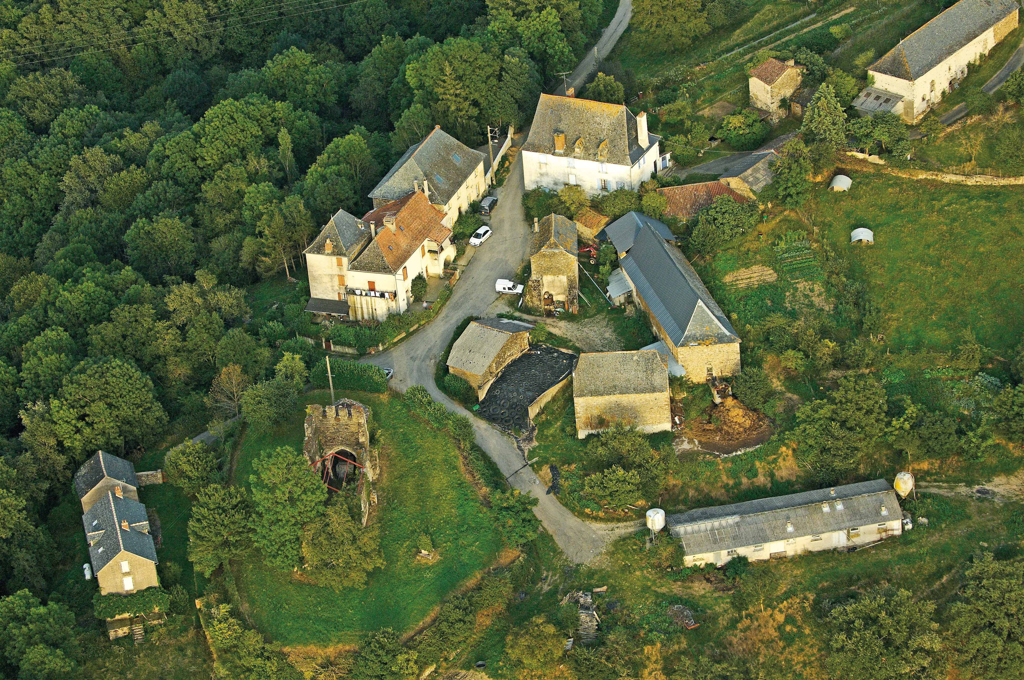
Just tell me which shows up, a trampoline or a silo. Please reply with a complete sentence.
This aerial view contains a silo.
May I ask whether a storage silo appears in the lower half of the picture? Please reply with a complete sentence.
Yes, the scene does show a storage silo in the lower half of the picture.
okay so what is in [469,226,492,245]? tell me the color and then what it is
white car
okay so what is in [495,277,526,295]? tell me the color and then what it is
white vehicle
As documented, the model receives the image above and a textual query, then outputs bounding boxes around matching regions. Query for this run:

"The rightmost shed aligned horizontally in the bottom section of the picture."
[671,478,903,571]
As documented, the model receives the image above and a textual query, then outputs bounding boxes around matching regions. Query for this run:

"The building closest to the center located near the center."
[446,317,534,393]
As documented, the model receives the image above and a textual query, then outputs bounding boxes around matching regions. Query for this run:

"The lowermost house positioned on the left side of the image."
[86,483,161,602]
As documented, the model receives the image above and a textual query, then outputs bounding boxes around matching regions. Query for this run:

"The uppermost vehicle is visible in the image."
[478,197,499,215]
